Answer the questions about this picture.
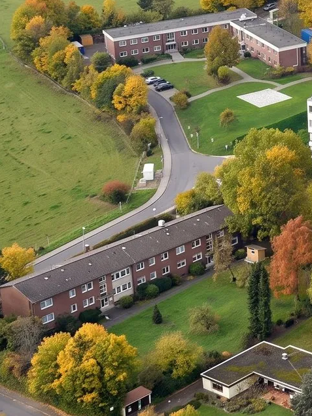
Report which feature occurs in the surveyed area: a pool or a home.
home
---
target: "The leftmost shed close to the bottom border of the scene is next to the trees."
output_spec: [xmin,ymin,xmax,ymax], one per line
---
[117,383,150,414]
